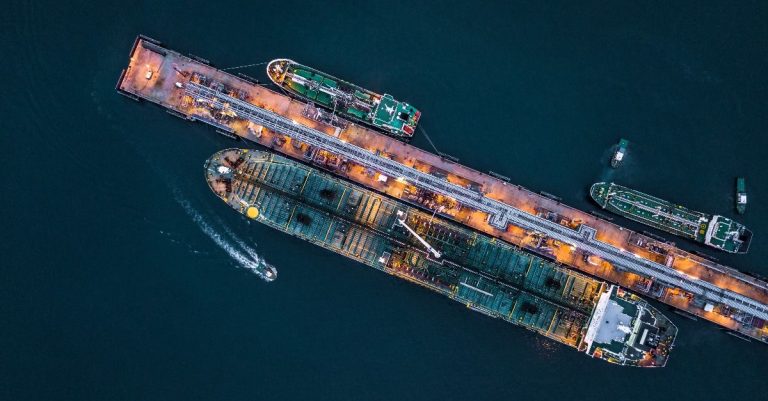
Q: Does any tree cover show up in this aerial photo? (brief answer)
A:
No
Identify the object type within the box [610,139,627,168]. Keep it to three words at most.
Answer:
boat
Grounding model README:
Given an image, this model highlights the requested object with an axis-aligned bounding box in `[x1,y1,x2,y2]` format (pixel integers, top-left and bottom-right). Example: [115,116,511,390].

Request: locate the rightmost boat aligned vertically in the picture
[733,177,748,215]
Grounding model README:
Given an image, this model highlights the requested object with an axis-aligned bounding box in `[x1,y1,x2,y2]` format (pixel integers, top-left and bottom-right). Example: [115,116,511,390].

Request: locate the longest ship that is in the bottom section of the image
[203,147,680,367]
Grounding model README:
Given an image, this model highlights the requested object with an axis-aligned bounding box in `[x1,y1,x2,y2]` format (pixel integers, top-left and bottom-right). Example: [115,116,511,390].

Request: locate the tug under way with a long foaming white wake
[256,262,278,279]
